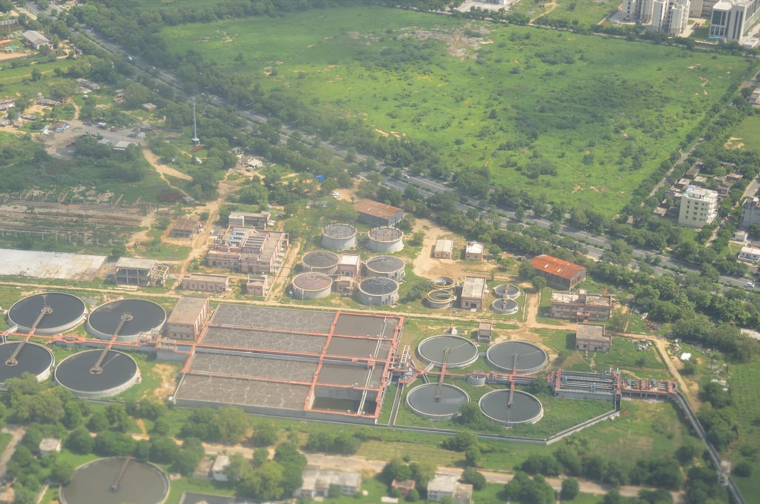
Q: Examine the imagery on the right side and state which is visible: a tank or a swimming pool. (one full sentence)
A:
The feature located on the right side is a tank.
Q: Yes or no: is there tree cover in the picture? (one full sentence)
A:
Yes, there's tree cover in this view.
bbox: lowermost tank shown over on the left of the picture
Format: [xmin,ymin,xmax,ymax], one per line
[58,451,171,504]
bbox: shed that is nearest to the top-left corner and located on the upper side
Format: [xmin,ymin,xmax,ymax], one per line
[19,30,51,50]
